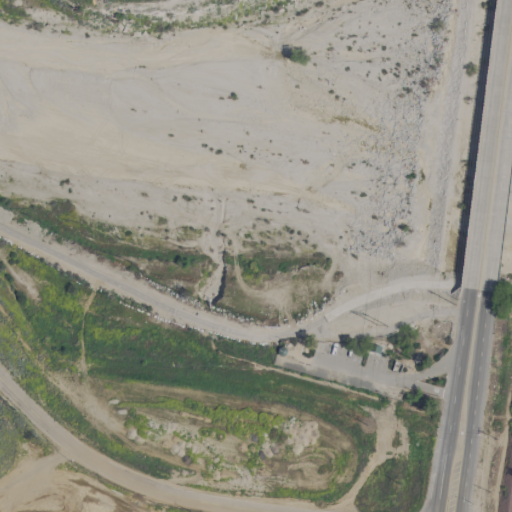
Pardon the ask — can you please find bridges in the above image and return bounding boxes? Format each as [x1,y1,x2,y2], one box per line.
[462,0,512,292]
